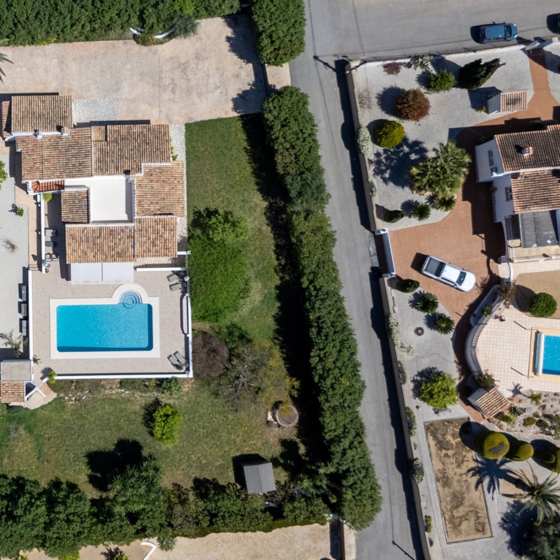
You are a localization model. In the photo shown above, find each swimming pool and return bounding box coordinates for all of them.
[50,284,159,359]
[529,328,560,383]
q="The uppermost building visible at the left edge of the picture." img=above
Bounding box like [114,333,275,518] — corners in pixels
[1,94,186,264]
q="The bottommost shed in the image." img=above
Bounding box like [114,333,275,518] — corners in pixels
[241,460,275,493]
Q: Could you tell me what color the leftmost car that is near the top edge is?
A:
blue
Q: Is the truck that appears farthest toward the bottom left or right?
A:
right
